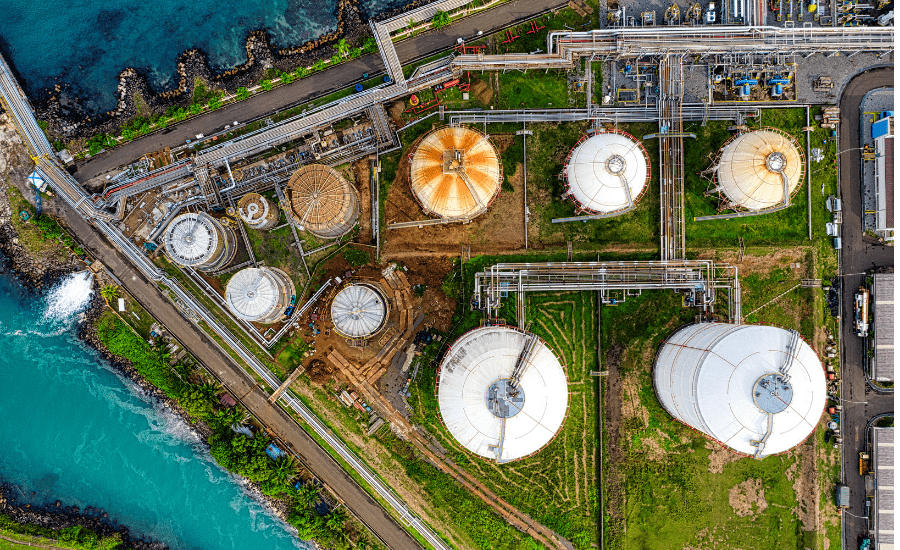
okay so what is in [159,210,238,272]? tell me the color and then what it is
white storage tank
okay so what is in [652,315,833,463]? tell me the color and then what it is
white storage tank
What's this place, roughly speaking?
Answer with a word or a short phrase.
industrial area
